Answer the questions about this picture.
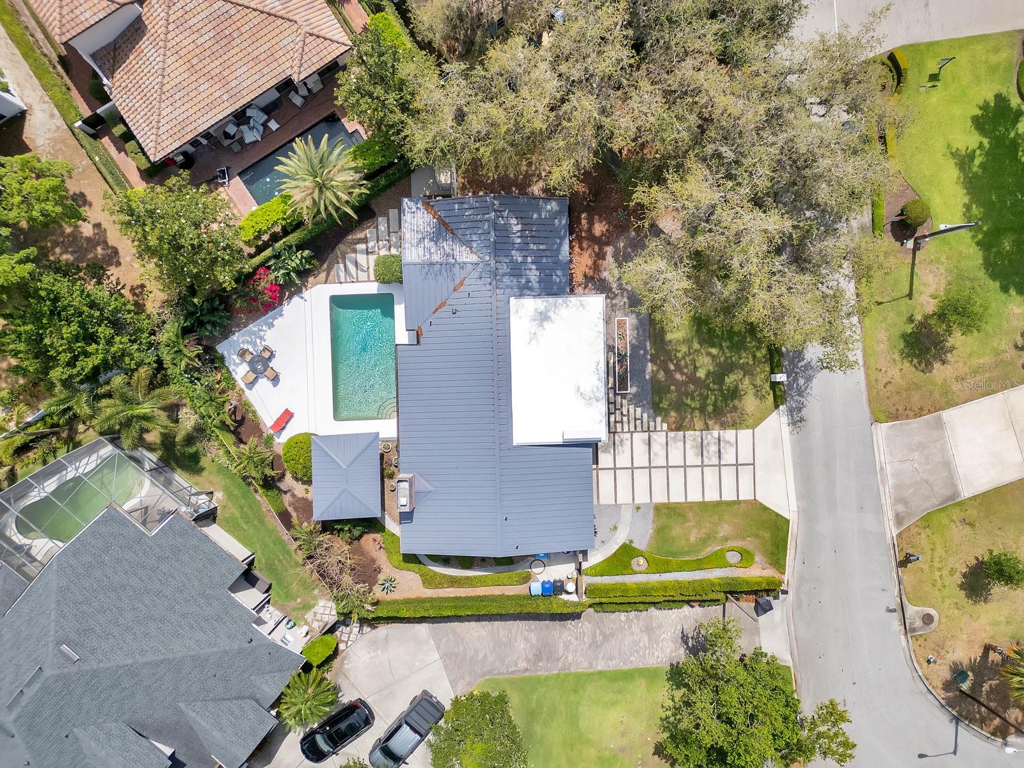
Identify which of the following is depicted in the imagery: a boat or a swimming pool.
swimming pool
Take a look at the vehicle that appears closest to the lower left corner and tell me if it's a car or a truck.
car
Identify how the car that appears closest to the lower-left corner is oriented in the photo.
on a diagonal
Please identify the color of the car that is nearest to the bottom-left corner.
black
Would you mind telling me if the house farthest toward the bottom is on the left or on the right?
left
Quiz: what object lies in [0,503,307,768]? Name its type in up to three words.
house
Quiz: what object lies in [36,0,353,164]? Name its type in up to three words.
house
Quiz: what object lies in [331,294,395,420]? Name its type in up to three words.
swimming pool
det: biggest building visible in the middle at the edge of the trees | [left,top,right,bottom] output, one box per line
[394,194,607,558]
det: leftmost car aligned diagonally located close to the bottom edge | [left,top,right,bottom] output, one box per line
[299,695,378,766]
